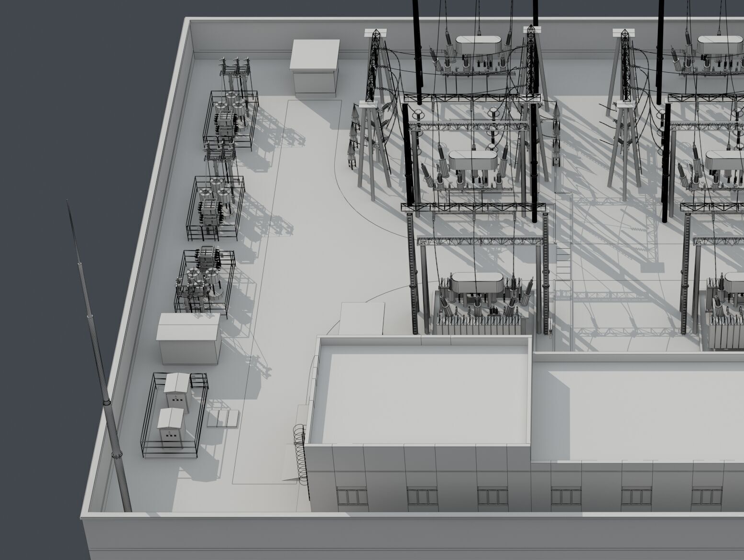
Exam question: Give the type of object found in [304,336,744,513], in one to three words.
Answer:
building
